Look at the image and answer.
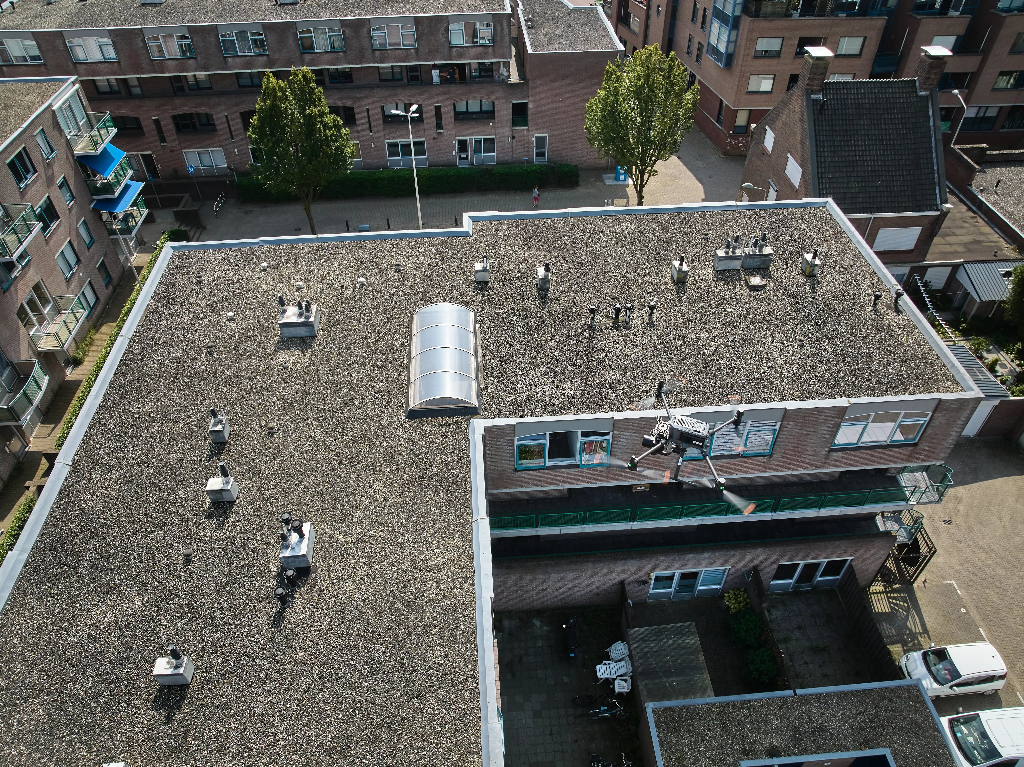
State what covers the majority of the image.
buildings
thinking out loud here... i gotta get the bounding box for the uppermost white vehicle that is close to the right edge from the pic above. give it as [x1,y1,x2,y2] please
[898,642,1012,701]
